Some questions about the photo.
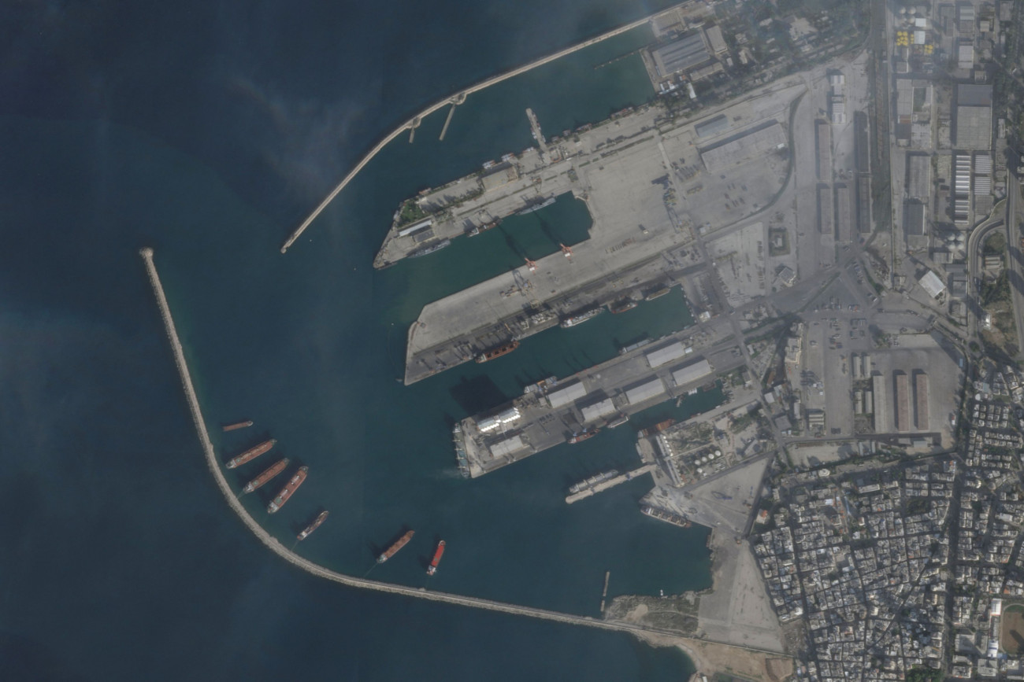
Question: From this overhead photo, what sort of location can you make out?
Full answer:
The area seen from above is a port.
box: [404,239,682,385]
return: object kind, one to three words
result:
pier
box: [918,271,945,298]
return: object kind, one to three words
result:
building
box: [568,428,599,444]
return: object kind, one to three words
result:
ship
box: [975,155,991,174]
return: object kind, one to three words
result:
building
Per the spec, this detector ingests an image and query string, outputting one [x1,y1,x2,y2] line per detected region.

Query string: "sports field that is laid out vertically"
[1001,600,1024,660]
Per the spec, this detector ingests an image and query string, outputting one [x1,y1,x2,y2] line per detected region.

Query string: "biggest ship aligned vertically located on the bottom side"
[454,423,469,478]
